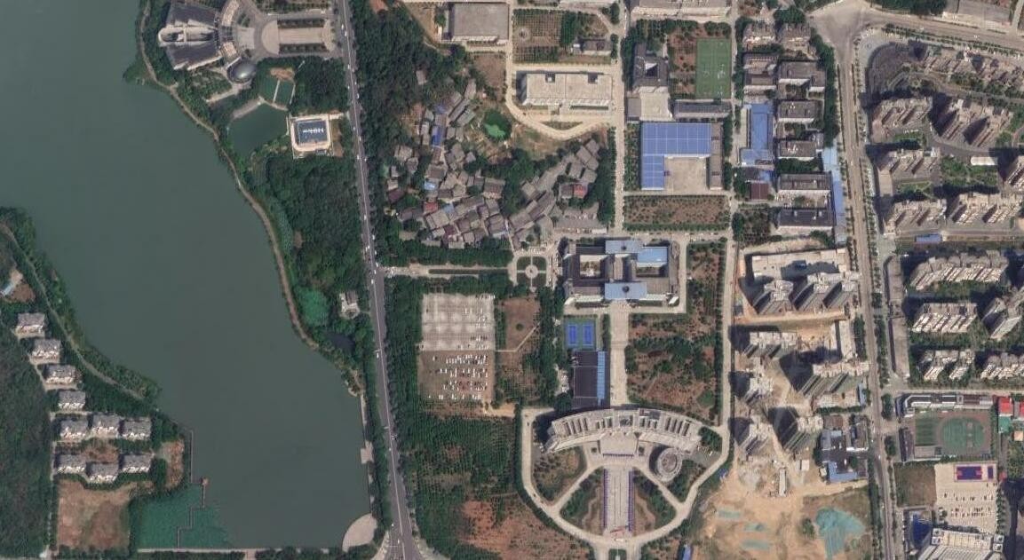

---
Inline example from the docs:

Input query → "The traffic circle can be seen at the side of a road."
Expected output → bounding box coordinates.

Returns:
[517,257,547,287]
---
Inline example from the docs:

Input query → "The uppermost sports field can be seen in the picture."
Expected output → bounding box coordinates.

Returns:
[696,38,731,98]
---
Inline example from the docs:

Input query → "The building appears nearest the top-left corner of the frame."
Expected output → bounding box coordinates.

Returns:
[156,0,239,72]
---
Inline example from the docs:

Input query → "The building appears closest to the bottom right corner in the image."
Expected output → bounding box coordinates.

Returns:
[922,526,1004,560]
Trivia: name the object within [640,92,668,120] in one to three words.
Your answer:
building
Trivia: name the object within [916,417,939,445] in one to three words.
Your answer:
sports field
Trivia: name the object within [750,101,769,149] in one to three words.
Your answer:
shed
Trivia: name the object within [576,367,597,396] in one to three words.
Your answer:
sports court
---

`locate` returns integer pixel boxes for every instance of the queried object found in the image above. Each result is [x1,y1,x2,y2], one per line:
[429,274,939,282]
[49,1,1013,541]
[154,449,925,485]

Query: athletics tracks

[913,410,992,462]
